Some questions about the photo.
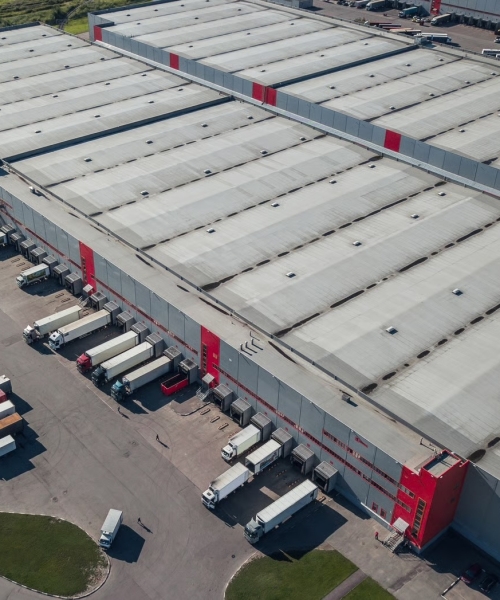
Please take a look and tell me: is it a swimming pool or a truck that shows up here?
truck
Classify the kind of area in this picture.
industrial area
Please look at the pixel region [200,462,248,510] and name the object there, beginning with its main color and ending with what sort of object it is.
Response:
white truck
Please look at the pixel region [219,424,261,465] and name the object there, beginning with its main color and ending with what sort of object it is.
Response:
white truck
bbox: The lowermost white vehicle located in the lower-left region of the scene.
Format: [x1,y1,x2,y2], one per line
[94,506,123,550]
